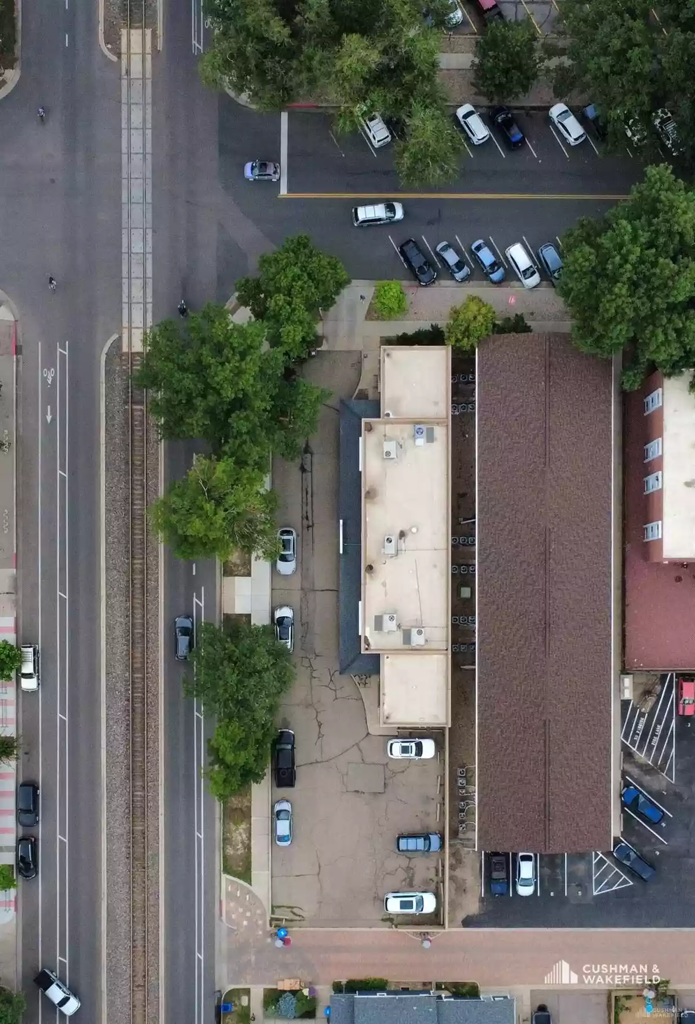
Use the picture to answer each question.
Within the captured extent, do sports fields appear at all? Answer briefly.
No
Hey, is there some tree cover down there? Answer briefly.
Yes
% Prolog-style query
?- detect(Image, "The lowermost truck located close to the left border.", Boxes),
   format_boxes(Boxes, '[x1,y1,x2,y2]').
[28,967,81,1017]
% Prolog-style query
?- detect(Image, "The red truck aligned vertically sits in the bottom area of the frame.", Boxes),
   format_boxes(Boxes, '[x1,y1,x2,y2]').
[674,672,695,720]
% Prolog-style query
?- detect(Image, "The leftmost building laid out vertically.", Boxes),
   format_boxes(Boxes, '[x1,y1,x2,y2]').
[338,346,451,726]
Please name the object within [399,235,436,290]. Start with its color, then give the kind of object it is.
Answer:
black car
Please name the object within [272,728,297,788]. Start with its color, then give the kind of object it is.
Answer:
black truck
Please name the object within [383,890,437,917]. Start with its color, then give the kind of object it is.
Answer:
white car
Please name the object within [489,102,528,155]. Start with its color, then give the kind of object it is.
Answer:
black truck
